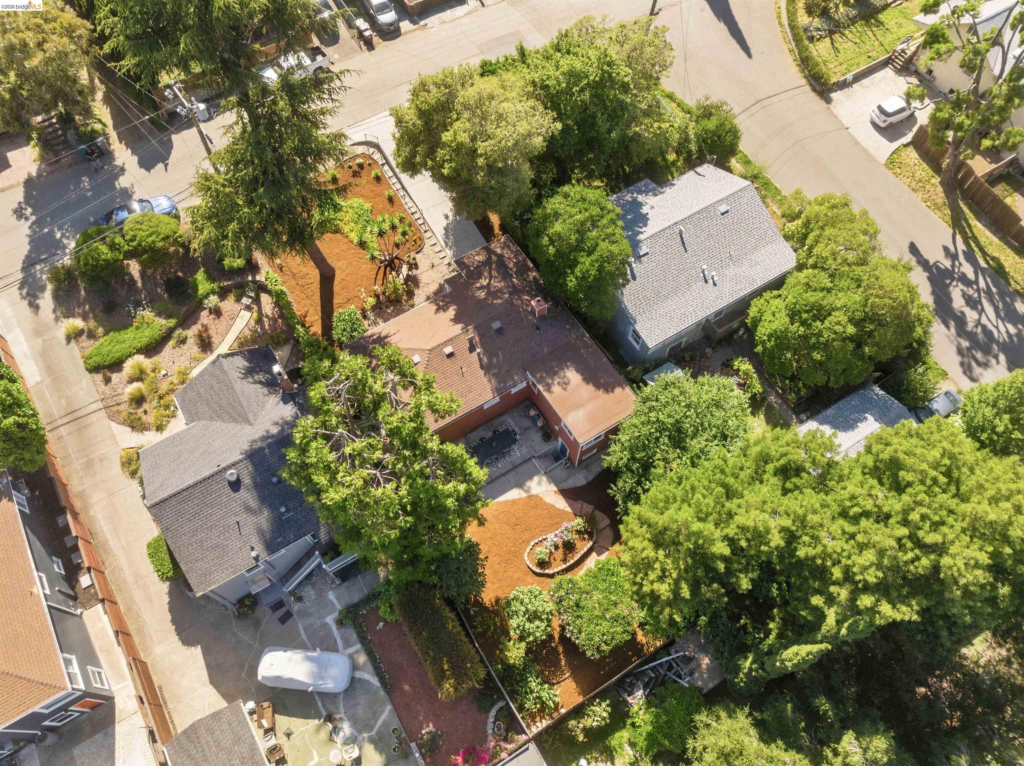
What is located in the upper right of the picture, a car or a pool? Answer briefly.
car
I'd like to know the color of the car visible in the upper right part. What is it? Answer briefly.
white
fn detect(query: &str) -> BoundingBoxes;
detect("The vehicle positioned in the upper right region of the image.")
[874,96,928,132]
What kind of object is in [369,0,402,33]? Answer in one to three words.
car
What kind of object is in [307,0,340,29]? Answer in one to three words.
car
